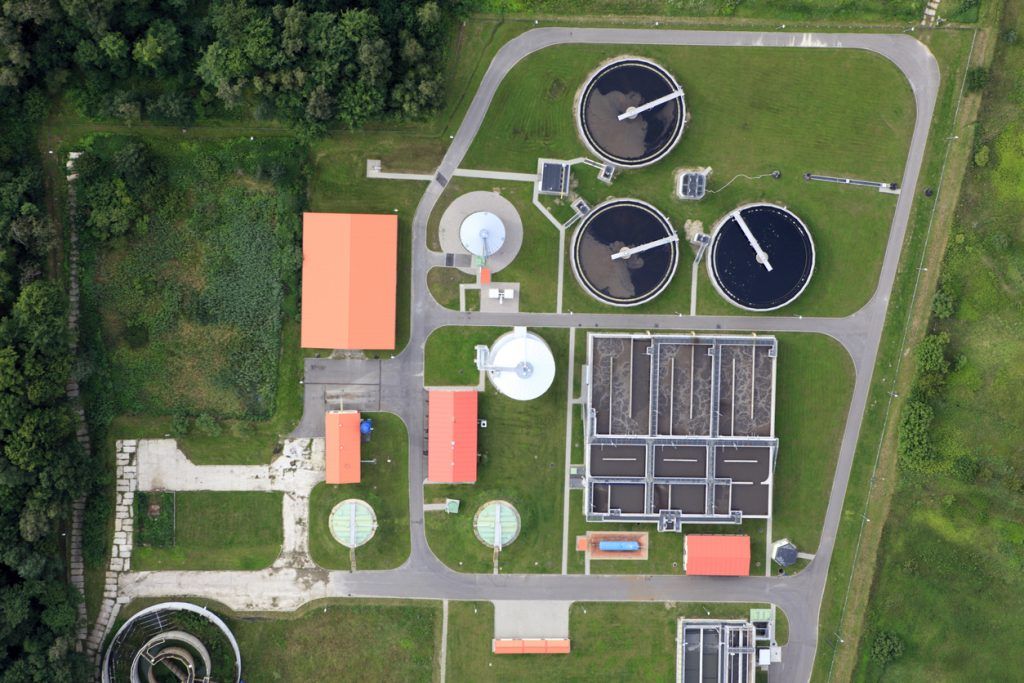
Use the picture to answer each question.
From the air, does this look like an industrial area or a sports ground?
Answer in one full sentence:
This looks like an industrial area.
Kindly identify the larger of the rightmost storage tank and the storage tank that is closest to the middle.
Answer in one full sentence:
The larger object is the rightmost storage tank, with the storage tank that is closest to the middle being the smaller of the pair.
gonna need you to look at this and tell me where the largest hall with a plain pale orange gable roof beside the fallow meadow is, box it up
[301,212,399,350]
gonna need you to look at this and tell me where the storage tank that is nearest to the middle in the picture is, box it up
[488,327,556,400]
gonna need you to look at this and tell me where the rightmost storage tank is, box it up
[707,202,817,311]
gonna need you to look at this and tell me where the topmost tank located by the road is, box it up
[577,56,687,166]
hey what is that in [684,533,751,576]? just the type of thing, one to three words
house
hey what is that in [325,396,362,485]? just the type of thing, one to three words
building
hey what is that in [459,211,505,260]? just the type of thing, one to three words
storage tank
